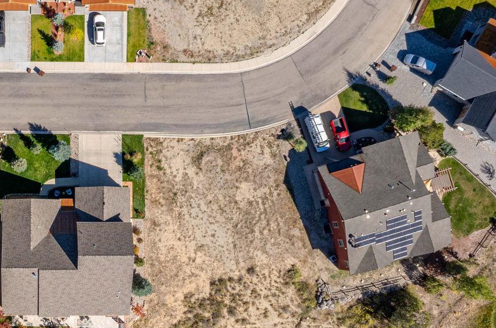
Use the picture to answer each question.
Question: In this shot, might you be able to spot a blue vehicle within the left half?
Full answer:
No, no blue vehicle can be made out within the left half.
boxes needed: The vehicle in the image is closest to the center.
[304,113,329,152]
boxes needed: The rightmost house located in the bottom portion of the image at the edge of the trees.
[309,130,452,274]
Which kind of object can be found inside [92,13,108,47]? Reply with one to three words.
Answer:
car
